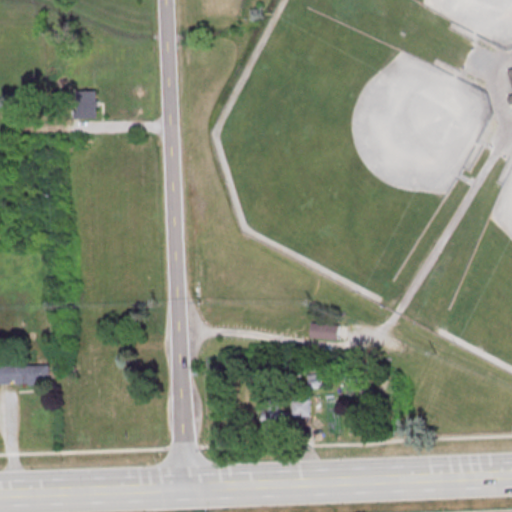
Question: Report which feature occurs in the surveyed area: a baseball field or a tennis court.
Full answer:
It is a baseball field that can be seen here.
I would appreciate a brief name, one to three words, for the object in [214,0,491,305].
baseball field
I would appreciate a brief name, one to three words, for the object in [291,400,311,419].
house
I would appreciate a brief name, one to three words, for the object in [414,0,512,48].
baseball field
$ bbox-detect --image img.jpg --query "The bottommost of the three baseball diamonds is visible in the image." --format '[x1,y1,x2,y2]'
[435,159,512,375]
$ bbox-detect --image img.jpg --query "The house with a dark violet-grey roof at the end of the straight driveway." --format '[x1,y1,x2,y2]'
[73,90,96,119]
